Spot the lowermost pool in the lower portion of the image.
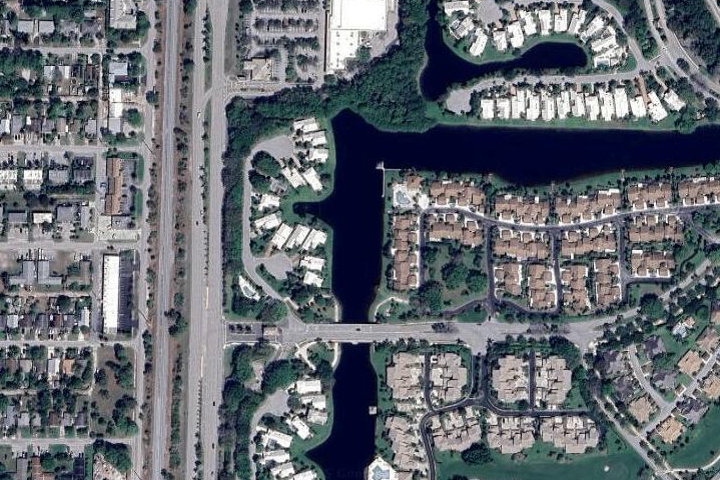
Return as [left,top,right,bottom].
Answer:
[368,457,398,480]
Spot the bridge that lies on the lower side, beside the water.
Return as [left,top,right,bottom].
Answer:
[336,322,375,343]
